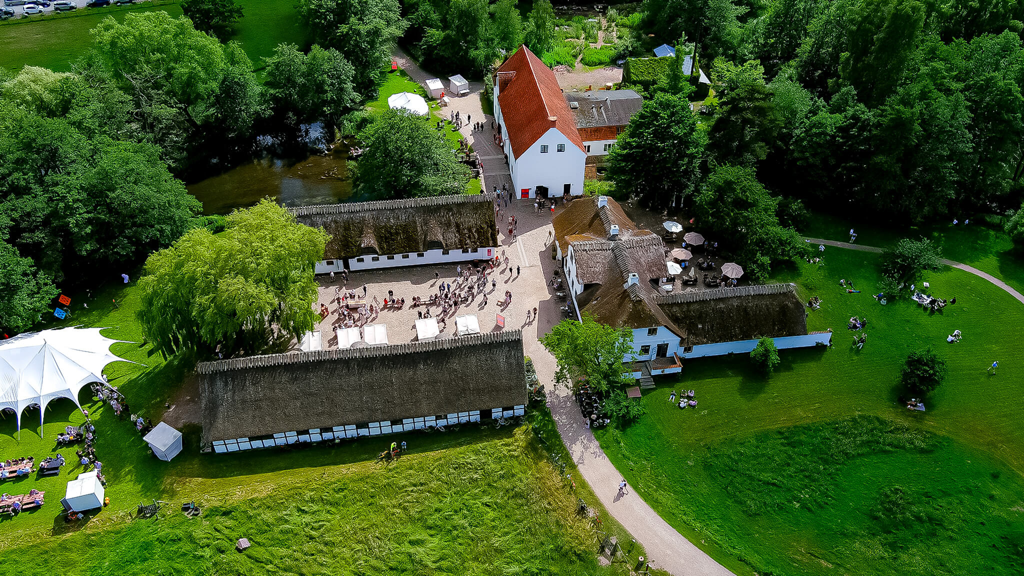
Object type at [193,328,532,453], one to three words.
barn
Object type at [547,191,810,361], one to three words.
house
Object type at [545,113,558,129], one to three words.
chimney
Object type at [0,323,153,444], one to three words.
tent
